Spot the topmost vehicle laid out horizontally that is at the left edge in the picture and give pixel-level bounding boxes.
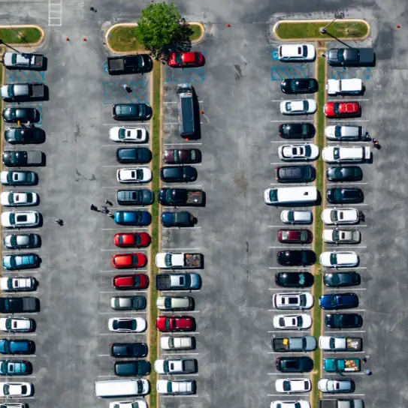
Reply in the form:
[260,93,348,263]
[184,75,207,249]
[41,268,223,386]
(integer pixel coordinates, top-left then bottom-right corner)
[3,51,45,69]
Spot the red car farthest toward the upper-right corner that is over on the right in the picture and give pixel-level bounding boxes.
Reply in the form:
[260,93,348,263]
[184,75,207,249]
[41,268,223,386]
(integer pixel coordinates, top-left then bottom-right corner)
[323,100,361,118]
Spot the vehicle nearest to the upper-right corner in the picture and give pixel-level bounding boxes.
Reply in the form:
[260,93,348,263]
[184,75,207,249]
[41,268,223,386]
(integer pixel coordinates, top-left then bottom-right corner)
[327,47,375,66]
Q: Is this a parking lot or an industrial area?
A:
parking lot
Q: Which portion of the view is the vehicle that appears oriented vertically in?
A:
top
